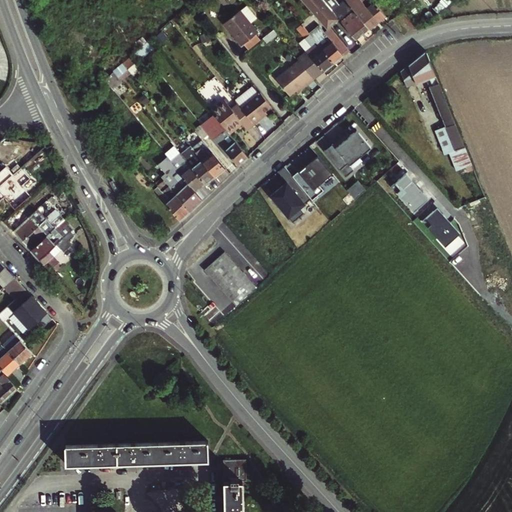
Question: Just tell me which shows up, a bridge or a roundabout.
roundabout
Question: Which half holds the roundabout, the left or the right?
left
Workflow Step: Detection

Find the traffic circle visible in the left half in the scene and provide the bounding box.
[102,248,179,325]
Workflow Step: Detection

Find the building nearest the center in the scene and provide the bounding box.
[204,252,257,304]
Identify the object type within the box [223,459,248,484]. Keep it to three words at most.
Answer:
building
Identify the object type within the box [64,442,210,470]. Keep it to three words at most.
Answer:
building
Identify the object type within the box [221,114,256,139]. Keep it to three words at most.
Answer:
house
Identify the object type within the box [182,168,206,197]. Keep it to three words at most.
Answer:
house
